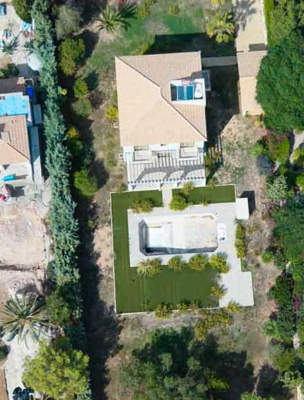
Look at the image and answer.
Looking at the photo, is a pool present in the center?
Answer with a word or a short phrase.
Yes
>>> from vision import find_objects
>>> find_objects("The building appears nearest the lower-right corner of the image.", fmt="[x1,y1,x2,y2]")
[237,197,251,221]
